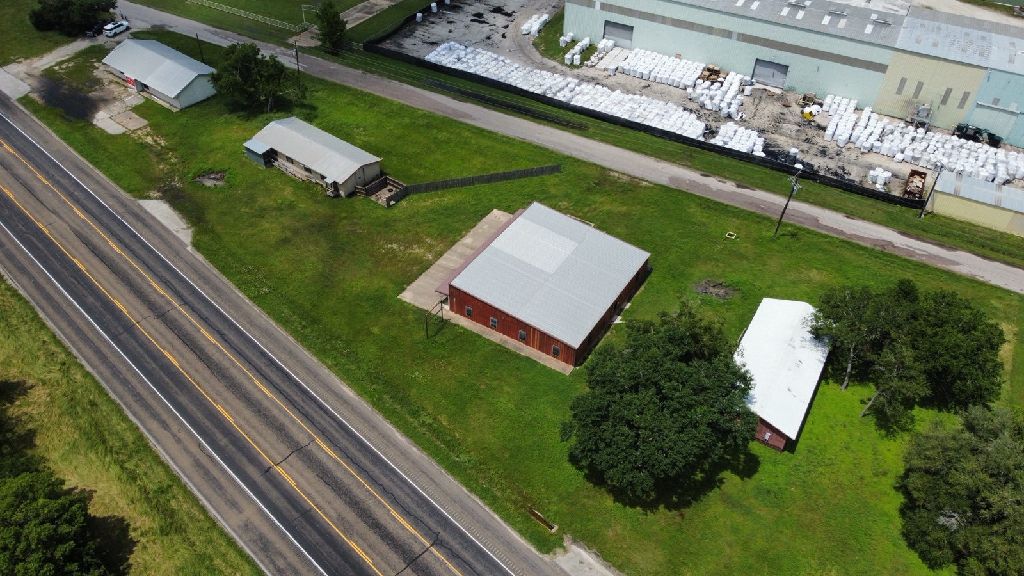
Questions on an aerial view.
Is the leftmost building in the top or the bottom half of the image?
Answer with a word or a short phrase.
top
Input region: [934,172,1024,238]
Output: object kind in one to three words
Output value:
shed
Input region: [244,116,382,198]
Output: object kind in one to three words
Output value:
house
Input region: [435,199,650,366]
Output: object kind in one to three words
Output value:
building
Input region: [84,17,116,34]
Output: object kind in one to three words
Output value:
vehicle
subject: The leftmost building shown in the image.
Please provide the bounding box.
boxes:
[102,39,214,108]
